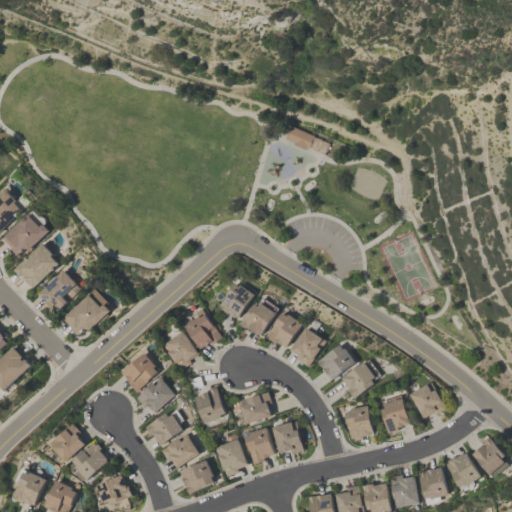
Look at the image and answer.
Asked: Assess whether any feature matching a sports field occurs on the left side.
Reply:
No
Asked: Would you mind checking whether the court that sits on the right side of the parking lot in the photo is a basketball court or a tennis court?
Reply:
basketball court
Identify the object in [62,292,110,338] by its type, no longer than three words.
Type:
house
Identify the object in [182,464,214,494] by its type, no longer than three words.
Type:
house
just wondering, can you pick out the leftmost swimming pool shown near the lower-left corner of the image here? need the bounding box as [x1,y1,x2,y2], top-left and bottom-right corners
[38,458,56,476]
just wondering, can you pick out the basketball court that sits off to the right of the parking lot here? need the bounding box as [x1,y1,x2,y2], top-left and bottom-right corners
[381,232,437,302]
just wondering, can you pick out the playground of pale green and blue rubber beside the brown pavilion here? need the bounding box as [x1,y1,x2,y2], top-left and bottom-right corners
[256,136,321,192]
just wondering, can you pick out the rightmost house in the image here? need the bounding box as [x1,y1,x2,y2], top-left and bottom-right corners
[471,440,508,477]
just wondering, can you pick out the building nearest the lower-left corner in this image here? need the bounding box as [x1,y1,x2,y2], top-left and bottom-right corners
[13,474,46,506]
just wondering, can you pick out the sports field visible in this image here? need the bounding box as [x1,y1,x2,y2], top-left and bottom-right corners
[354,167,388,197]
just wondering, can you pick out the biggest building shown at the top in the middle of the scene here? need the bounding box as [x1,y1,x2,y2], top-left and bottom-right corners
[287,127,315,150]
